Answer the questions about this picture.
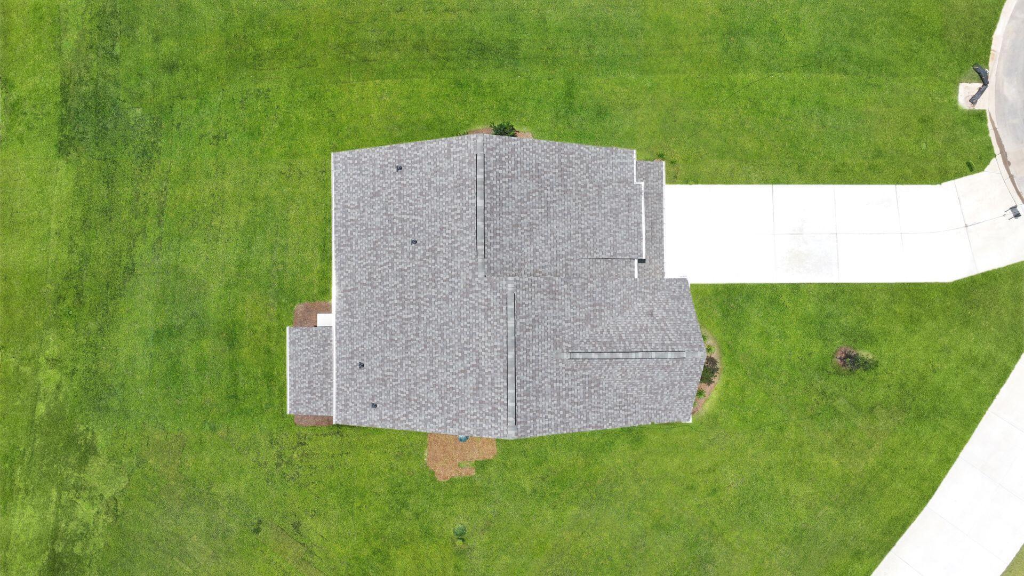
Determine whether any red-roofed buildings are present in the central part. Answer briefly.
No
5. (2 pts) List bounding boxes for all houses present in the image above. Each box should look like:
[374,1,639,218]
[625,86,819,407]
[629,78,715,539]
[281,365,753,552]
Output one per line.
[286,134,705,439]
